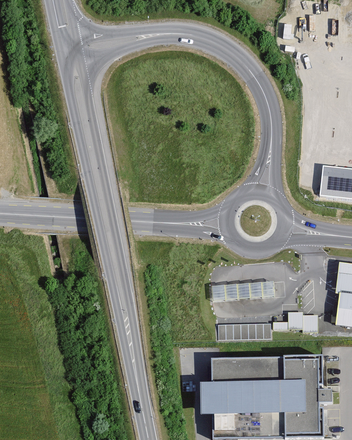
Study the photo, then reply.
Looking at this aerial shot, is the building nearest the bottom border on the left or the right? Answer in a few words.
right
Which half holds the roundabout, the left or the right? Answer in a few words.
right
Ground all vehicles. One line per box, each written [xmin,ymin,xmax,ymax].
[328,378,340,384]
[330,426,344,432]
[179,37,193,44]
[328,368,340,374]
[210,232,224,240]
[304,52,312,68]
[299,15,306,42]
[315,0,322,15]
[304,221,317,229]
[134,400,140,413]
[323,0,329,12]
